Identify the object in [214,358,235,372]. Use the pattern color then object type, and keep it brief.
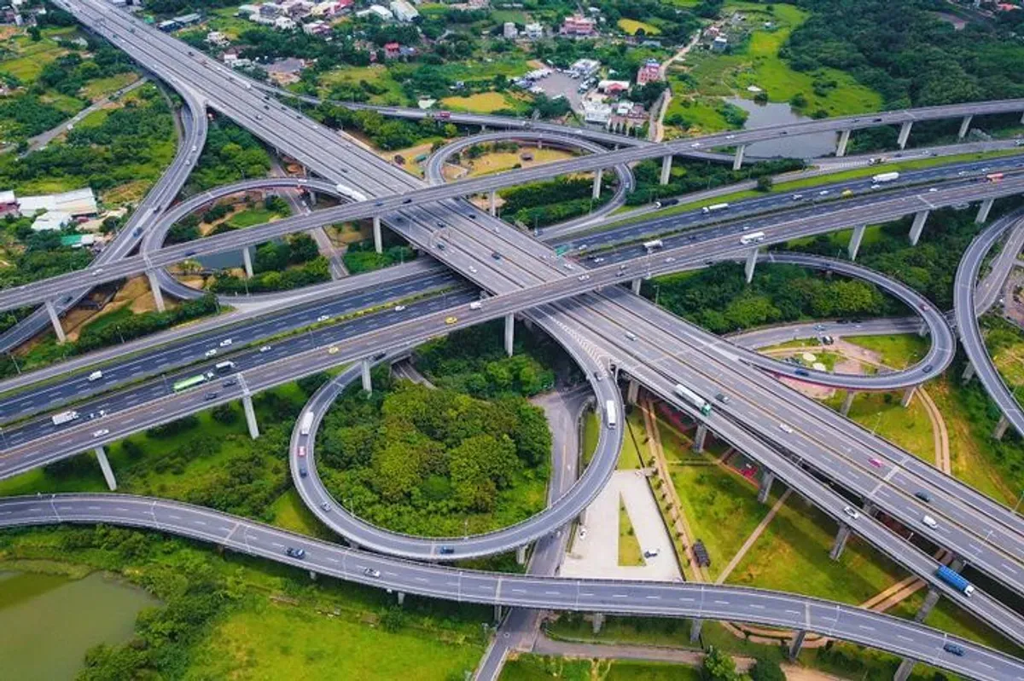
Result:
white vehicle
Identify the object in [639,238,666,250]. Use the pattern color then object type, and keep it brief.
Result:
white vehicle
